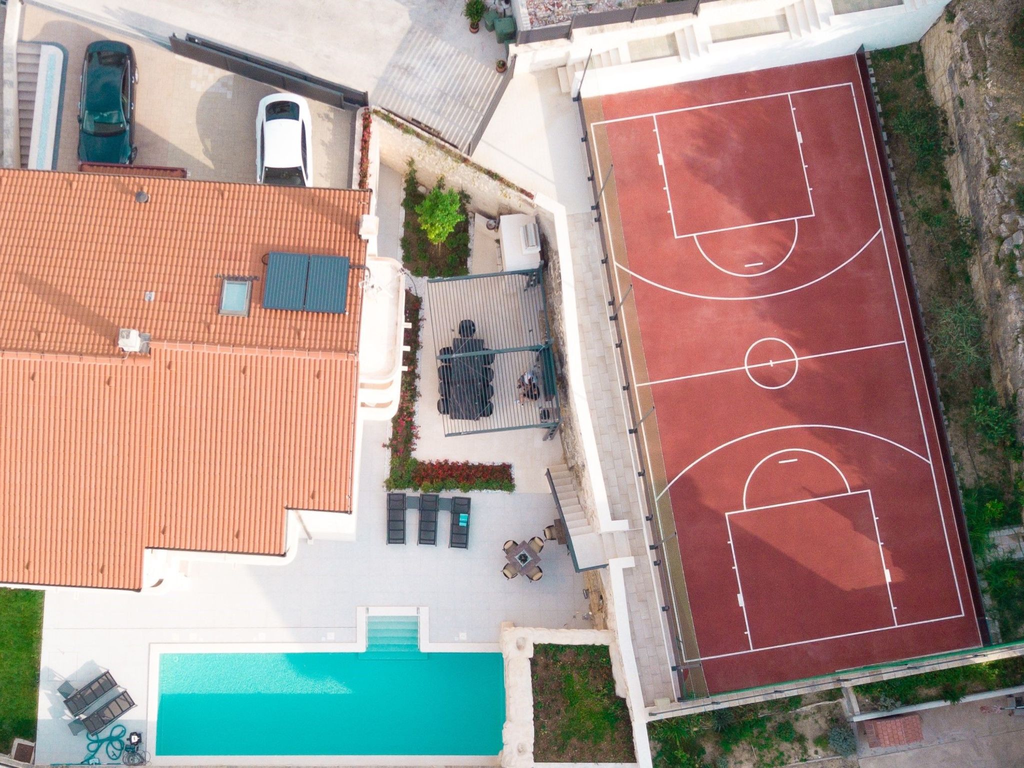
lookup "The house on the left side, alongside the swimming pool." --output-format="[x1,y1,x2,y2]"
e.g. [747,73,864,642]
[0,162,413,601]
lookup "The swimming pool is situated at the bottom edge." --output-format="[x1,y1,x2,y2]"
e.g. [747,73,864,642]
[146,607,504,765]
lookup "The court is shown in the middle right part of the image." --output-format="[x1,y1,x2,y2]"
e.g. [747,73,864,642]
[583,54,981,700]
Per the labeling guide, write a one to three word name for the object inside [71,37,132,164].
car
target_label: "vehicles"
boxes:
[71,37,132,164]
[250,93,313,185]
